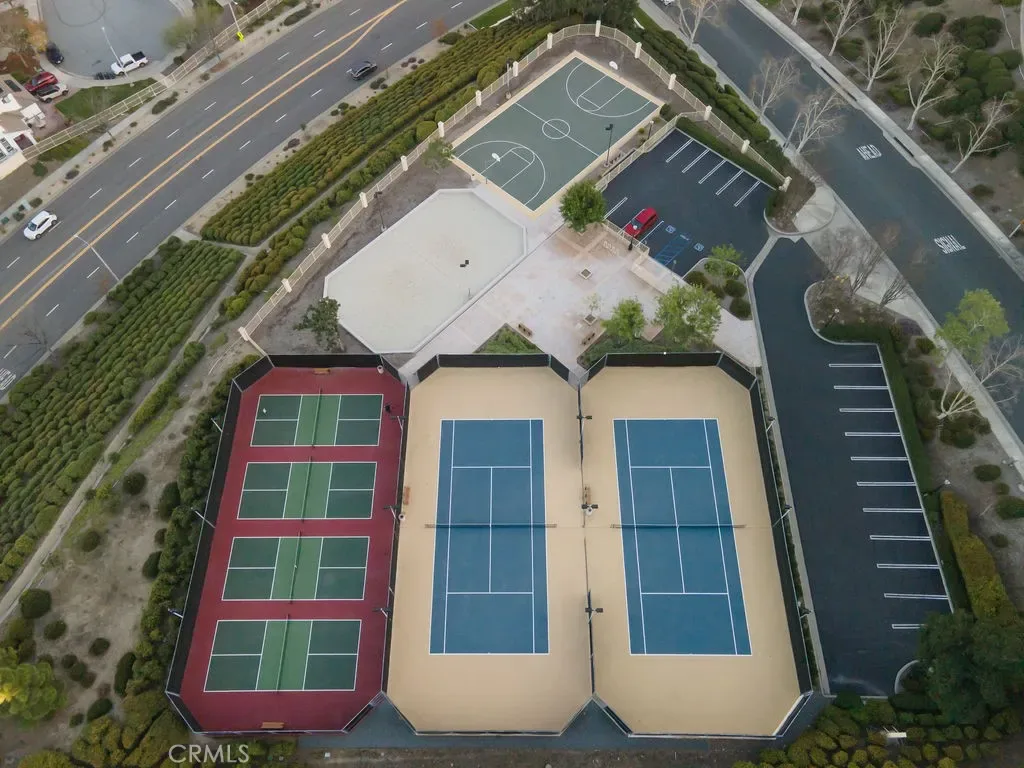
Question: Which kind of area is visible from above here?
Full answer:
It's a sports ground.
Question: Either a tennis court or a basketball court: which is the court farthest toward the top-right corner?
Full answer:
The court farthest toward the top-right corner is a basketball court.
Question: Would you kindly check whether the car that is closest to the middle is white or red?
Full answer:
The car that is closest to the middle is red.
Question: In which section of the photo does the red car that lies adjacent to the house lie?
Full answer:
The red car that lies adjacent to the house sits in the top left section of the image.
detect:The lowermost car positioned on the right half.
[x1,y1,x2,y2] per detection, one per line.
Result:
[626,206,660,235]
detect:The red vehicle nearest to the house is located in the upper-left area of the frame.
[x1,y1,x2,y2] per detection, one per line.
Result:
[23,69,56,91]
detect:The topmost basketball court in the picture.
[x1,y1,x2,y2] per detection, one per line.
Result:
[444,52,659,217]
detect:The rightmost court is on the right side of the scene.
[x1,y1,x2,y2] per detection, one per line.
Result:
[582,368,803,737]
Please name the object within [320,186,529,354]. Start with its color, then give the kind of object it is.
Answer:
white sports court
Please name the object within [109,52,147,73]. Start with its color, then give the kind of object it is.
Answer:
white truck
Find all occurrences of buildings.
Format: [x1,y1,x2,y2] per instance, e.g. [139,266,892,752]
[0,86,50,160]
